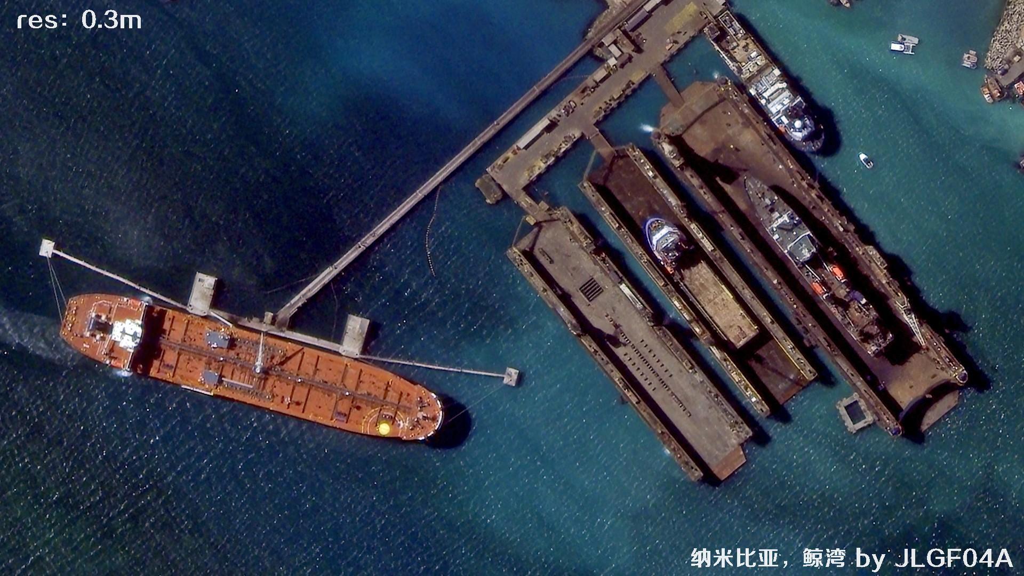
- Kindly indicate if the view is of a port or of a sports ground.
port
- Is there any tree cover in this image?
No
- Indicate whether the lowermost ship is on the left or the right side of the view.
left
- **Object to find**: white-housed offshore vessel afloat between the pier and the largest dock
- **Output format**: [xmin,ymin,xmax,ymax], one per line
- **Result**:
[703,11,823,151]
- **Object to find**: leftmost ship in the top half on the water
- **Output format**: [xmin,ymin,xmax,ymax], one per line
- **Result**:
[474,173,503,204]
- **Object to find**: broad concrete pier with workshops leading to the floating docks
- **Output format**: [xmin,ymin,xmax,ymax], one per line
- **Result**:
[485,0,727,223]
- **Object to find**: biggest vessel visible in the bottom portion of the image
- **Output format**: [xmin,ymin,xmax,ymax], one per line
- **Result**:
[60,293,443,441]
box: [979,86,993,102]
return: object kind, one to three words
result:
boat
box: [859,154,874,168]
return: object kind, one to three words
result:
boat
